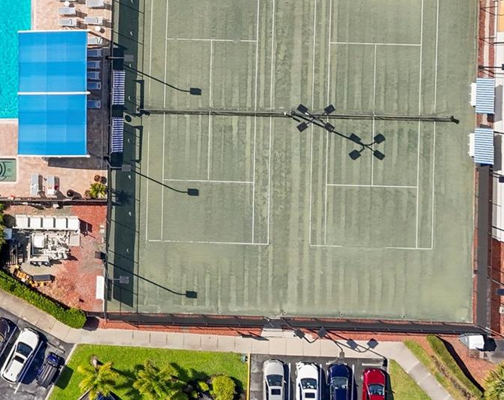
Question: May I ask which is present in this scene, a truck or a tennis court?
tennis court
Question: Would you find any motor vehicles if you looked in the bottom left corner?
Yes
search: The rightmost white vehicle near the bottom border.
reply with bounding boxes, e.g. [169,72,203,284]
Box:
[295,360,322,400]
